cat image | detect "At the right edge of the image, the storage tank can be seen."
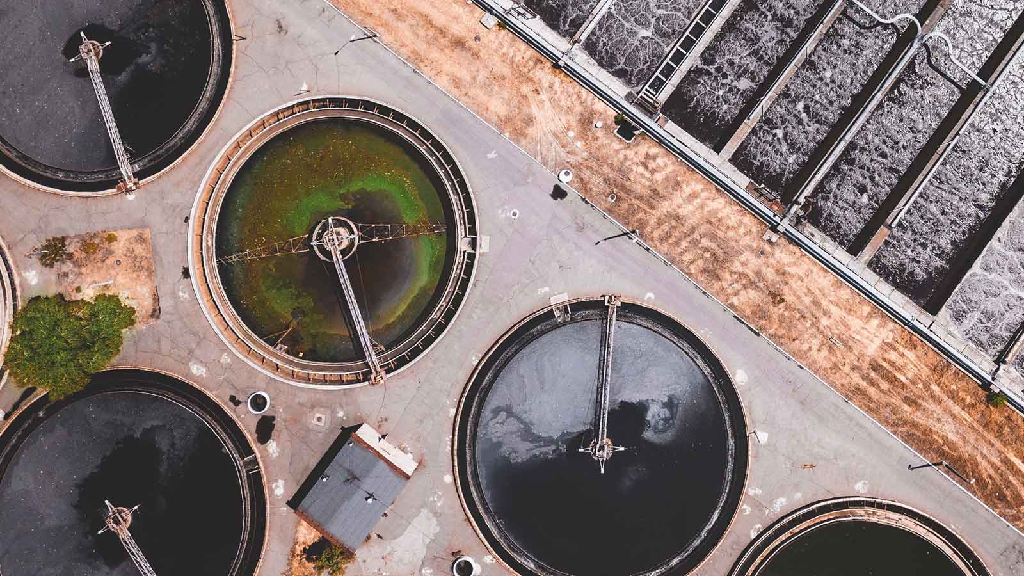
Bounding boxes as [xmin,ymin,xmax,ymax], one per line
[730,496,991,576]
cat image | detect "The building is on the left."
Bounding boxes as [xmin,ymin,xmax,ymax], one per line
[295,425,420,555]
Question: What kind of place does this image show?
industrial area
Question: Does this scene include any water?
Yes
